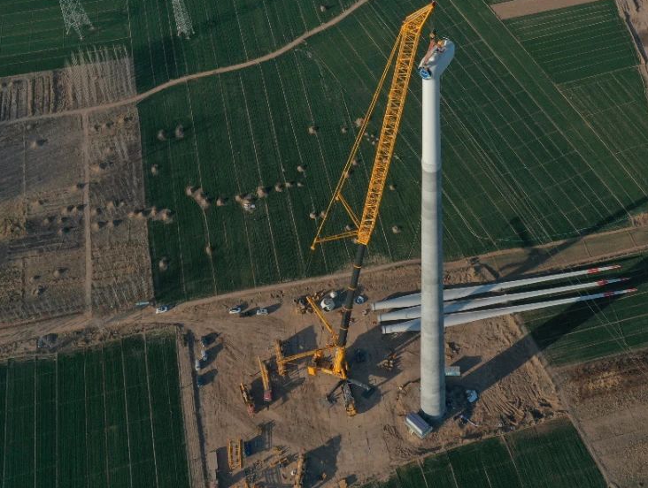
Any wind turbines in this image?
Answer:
Yes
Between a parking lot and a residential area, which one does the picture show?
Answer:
parking lot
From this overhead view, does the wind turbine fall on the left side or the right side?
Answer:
right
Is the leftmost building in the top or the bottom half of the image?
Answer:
bottom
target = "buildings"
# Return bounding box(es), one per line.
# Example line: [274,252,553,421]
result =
[404,412,432,442]
[444,363,464,377]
